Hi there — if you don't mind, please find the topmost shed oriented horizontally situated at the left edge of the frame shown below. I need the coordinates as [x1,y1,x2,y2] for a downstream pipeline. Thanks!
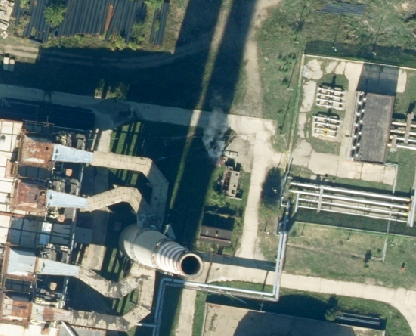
[0,100,95,130]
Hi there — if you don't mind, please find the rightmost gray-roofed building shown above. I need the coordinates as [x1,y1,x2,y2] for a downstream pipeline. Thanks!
[347,92,396,164]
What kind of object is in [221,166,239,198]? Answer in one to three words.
building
